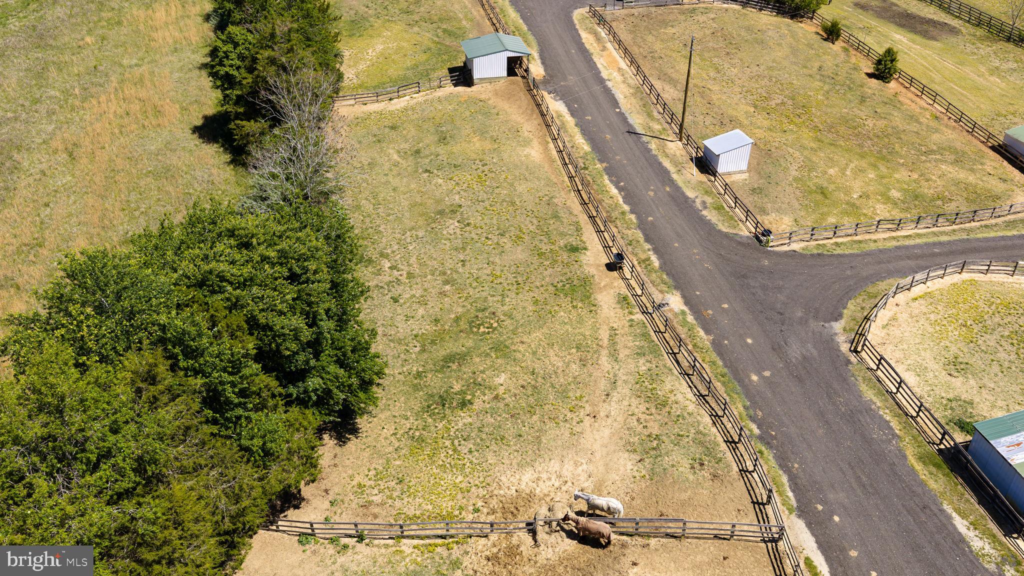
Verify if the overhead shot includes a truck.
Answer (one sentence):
No, I find no truck anywhere in the image.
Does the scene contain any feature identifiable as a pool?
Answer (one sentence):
No, the scene contains no pool.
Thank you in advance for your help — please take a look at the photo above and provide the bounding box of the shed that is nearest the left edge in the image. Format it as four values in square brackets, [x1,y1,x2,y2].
[460,32,533,84]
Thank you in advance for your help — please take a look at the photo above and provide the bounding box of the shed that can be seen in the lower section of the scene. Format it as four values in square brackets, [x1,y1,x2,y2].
[971,410,1024,511]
